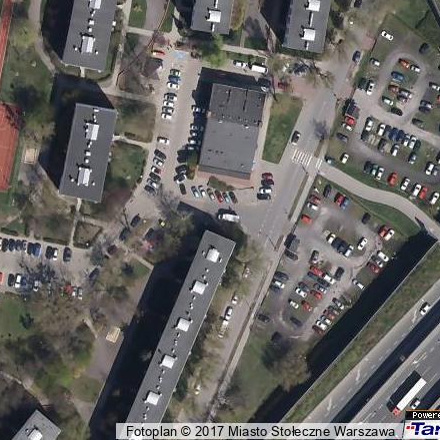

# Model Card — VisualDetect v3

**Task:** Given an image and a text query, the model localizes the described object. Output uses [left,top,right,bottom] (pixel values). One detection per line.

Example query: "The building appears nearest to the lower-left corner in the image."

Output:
[14,409,65,440]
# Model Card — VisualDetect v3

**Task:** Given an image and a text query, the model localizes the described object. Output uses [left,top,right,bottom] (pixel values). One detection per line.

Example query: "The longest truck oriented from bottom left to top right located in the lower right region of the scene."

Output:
[390,380,427,414]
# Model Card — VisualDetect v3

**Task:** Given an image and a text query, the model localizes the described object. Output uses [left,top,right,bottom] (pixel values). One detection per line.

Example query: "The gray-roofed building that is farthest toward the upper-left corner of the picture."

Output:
[64,0,120,73]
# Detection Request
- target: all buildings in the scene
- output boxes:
[199,83,267,179]
[188,0,236,35]
[14,409,65,440]
[280,0,333,54]
[118,230,237,440]
[60,103,119,203]
[64,0,120,73]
